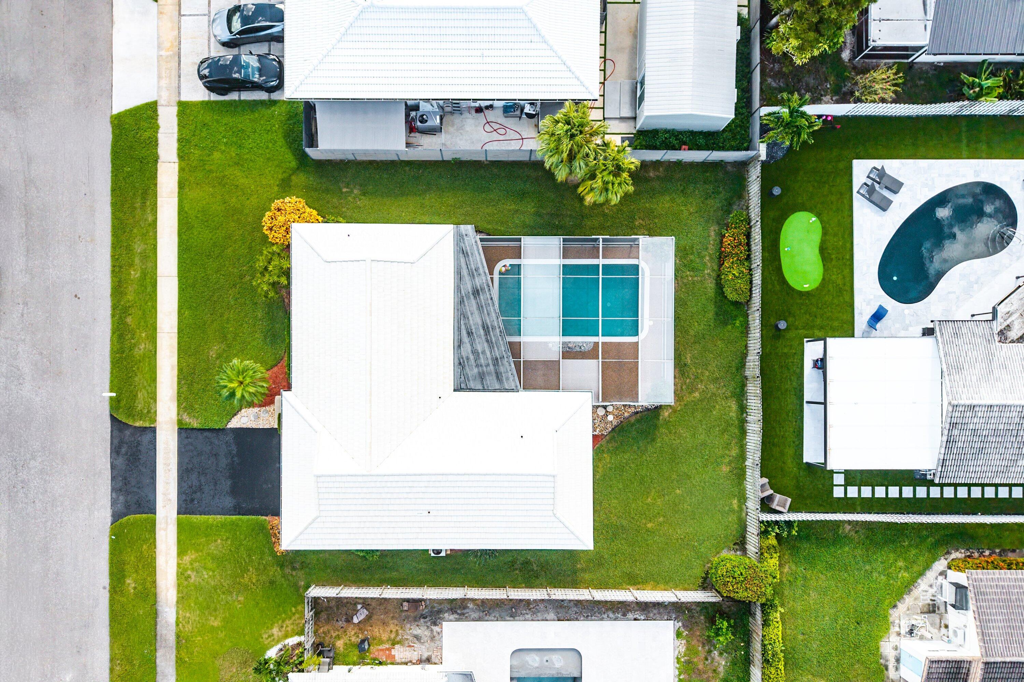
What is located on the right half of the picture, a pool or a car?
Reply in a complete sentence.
Visible on the right half of the picture is a pool.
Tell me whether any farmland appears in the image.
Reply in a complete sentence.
No, the scene doesn't show any farmland.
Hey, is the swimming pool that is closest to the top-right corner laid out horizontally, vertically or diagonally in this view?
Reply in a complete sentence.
The swimming pool that is closest to the top-right corner runs diagonally in the image.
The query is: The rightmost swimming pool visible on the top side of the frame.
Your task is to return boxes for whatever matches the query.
[879,181,1018,304]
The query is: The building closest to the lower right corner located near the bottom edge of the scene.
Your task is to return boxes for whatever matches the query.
[900,569,1024,682]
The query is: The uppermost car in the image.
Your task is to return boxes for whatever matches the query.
[210,3,284,48]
